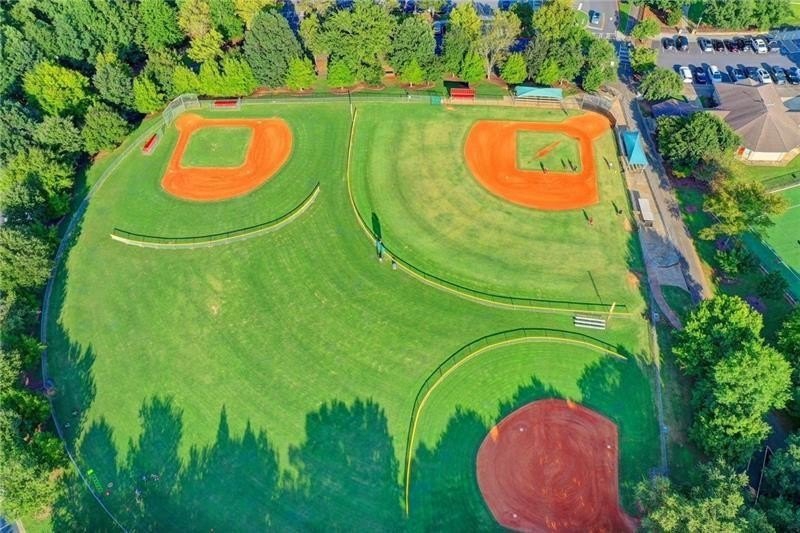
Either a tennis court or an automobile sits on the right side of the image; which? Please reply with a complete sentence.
Looking on the right side of the image, you will find an automobile.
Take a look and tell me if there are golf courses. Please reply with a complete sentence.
No, I can see no golf course in this picture.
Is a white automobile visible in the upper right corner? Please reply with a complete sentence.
Yes, the scene does show a white automobile in the upper right corner.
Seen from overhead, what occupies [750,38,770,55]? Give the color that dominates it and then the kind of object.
white car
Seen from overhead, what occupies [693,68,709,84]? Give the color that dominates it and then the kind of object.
blue car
